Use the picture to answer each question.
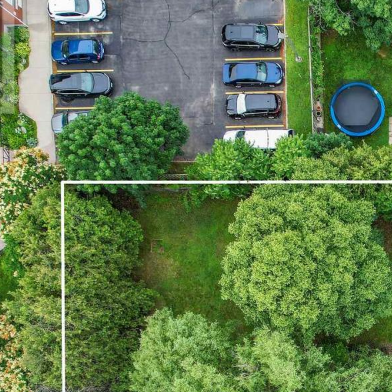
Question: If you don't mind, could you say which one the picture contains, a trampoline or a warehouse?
trampoline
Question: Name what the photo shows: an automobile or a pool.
automobile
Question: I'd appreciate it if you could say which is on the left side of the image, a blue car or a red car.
blue car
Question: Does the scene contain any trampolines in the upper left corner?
No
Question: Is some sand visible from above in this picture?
No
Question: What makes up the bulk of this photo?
trees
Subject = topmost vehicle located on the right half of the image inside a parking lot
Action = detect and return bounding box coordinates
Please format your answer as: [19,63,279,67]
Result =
[221,21,284,54]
